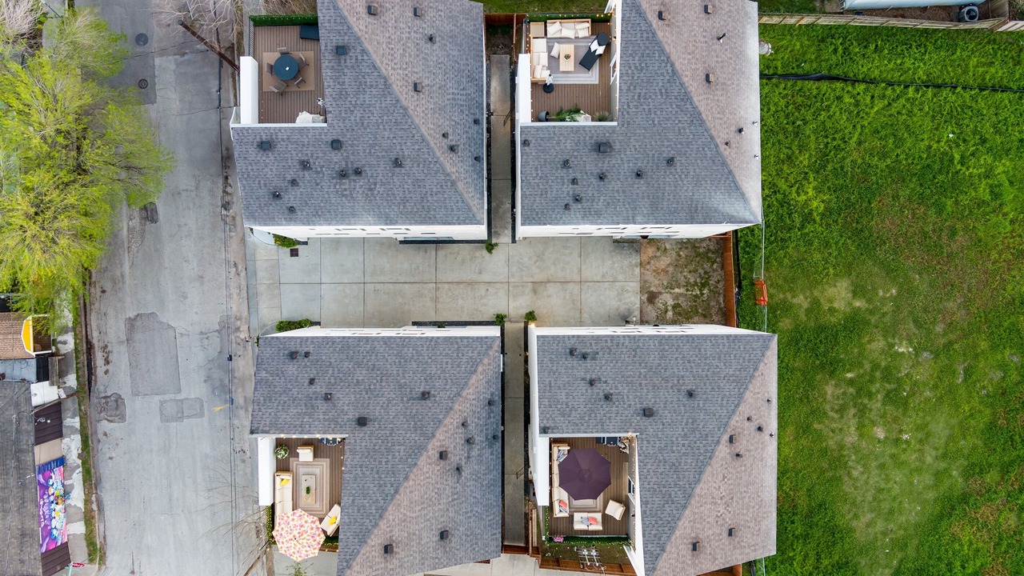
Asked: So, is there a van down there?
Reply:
No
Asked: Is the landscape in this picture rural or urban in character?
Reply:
urban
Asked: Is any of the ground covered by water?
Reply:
No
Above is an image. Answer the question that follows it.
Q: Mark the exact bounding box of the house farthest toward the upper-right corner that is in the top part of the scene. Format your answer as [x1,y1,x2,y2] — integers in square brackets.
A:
[516,0,763,239]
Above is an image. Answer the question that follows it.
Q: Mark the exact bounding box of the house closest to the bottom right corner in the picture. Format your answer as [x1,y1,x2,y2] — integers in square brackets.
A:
[529,324,780,576]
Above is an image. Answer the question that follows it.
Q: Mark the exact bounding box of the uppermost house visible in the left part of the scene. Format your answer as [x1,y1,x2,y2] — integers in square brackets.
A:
[232,0,488,239]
